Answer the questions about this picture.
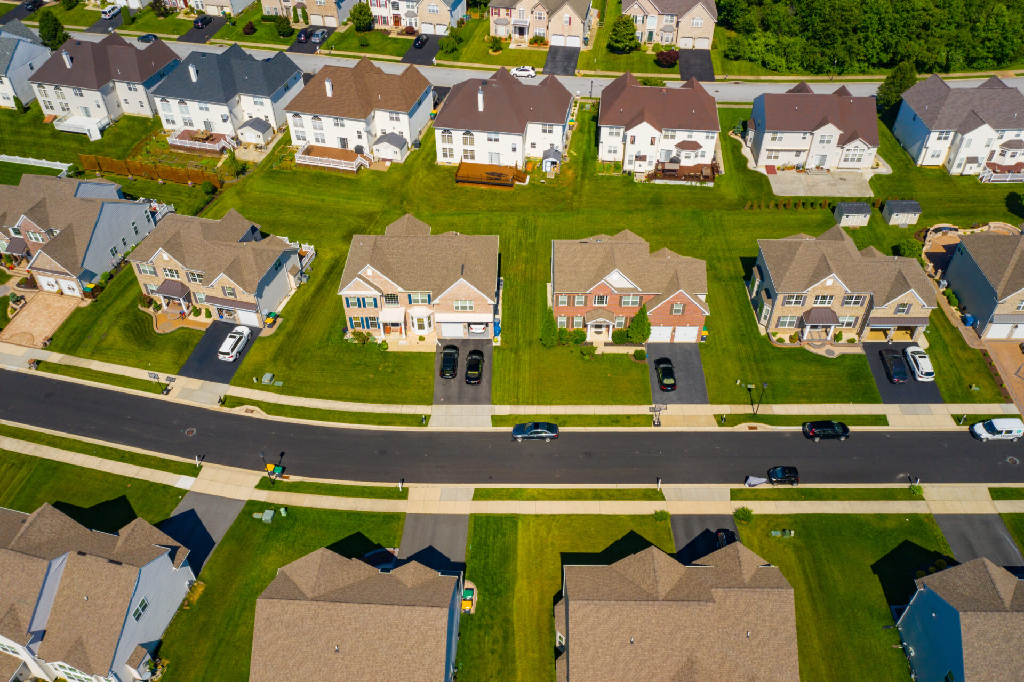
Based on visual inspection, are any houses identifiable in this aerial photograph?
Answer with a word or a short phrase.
Yes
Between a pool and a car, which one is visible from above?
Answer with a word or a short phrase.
car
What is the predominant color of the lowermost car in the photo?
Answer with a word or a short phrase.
black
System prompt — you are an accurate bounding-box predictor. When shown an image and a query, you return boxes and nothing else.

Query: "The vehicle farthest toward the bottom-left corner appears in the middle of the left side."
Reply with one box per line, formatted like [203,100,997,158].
[218,327,251,361]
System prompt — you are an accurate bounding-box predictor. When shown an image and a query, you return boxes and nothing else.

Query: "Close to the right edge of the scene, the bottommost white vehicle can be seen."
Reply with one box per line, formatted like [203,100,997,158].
[970,419,1024,444]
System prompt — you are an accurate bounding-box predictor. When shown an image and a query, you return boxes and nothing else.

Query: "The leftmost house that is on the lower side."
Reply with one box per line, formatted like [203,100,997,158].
[0,498,200,682]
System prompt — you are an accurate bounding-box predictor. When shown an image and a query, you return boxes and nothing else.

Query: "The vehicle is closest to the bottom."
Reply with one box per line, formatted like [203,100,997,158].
[714,519,747,550]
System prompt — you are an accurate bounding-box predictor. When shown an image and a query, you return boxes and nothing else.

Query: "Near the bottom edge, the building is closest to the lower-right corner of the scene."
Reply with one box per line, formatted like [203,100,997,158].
[895,551,1024,682]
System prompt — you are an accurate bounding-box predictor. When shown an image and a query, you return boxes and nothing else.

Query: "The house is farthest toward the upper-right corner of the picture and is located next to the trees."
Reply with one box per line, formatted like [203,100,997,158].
[892,73,1024,175]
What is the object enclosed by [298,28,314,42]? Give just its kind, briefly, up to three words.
car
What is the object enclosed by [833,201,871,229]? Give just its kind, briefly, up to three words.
shed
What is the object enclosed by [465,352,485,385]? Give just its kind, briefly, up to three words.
car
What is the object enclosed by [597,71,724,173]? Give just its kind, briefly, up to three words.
house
